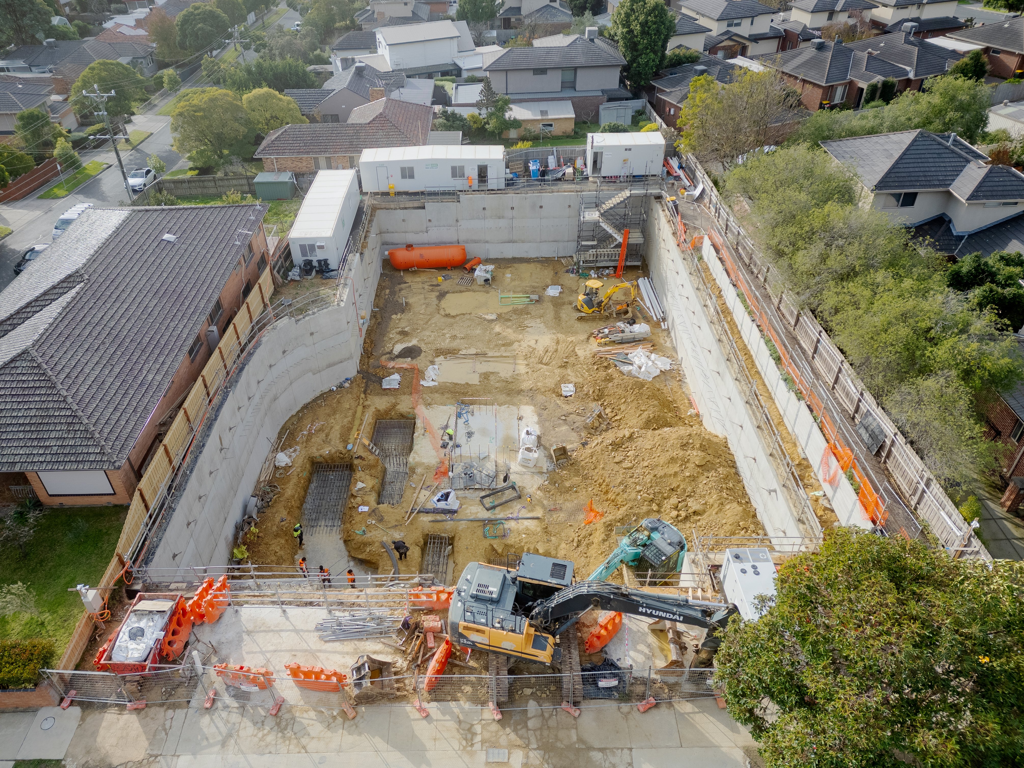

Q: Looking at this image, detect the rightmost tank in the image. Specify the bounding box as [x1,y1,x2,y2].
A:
[388,242,466,276]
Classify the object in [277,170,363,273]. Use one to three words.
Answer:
shed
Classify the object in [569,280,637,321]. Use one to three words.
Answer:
work vehicle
